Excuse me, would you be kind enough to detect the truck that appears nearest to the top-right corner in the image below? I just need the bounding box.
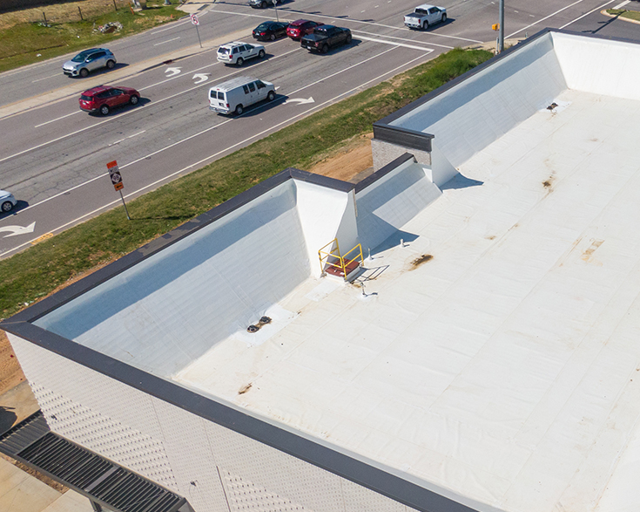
[403,4,447,30]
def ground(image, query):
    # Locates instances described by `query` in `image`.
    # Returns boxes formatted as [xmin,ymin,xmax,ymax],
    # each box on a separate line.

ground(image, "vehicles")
[76,85,141,115]
[403,4,447,30]
[251,20,283,41]
[0,189,18,213]
[208,75,277,114]
[300,25,352,53]
[216,40,266,66]
[58,46,116,78]
[246,0,283,9]
[280,19,321,42]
